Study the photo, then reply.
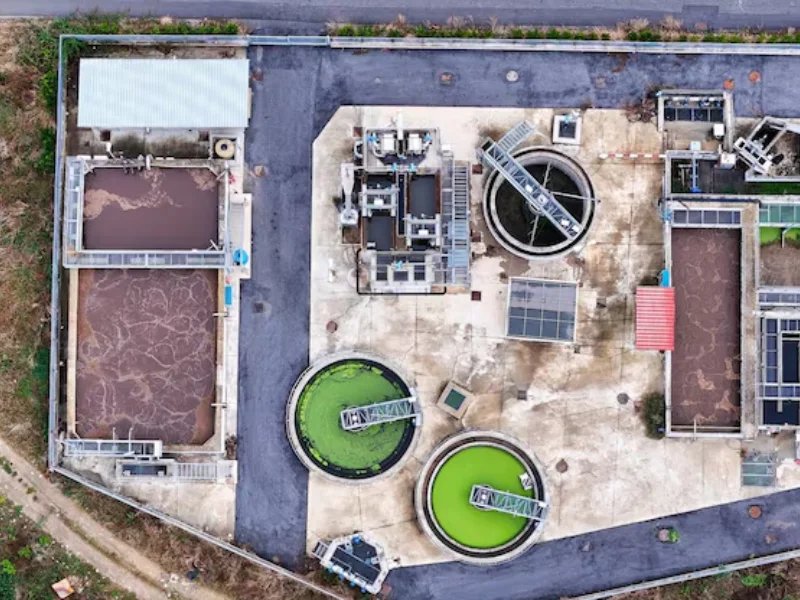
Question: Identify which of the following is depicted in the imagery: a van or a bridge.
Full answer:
Of the two, only a bridge appears.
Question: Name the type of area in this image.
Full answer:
The area seen from above is an industrial area.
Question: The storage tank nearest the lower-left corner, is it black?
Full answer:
No, the color of the storage tank nearest the lower-left corner is green.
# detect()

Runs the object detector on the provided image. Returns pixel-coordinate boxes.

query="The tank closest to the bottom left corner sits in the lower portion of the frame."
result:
[287,348,423,483]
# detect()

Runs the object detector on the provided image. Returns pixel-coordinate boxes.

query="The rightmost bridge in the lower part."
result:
[469,485,552,525]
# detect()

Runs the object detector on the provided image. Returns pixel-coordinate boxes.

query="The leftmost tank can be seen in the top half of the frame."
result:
[212,136,239,162]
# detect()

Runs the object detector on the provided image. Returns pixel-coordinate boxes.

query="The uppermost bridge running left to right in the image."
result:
[340,393,423,431]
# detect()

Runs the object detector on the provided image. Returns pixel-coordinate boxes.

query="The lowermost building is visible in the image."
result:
[311,529,388,593]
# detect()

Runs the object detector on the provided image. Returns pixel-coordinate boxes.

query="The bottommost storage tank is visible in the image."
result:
[415,427,552,562]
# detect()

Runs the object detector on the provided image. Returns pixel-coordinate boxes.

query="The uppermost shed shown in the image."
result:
[77,58,253,135]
